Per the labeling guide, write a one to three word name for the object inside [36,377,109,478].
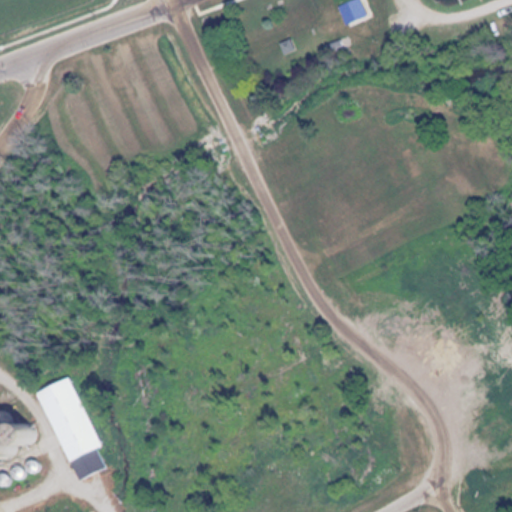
barn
